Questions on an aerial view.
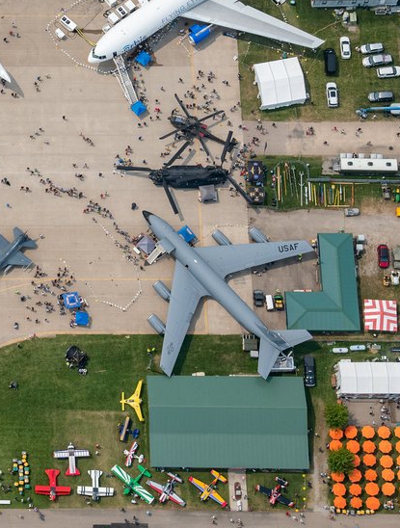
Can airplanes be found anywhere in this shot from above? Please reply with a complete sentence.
Yes, there is an airplane in the image.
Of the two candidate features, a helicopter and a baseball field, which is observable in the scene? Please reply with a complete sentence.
Visible in the photo is a helicopter.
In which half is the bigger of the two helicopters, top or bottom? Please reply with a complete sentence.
It is in the top half that the bigger of the two helicopters appears.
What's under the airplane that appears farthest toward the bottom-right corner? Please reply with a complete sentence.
It looks like the airplane that appears farthest toward the bottom-right corner is sitting on the grass.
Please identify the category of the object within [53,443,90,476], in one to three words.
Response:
airplane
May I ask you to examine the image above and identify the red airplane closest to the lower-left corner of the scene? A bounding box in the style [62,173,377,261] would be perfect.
[34,469,72,502]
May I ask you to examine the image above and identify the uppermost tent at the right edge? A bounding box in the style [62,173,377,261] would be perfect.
[362,300,399,336]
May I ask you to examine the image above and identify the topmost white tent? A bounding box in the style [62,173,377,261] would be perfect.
[251,58,308,111]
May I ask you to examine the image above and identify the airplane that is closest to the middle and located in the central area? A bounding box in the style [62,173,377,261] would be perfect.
[144,213,316,382]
